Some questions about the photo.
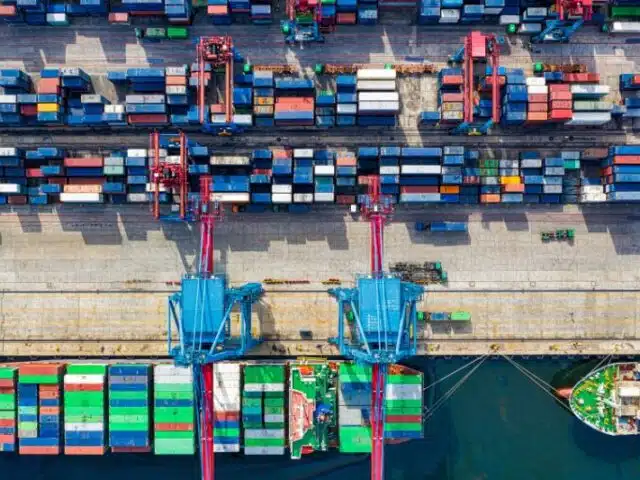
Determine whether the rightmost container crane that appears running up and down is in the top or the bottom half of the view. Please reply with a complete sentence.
Seen from above, the rightmost container crane that appears running up and down lies in the top half of the view.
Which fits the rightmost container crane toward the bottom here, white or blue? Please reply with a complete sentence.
The rightmost container crane toward the bottom looks blue in the image.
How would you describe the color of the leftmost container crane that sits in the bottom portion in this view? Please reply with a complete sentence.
The leftmost container crane that sits in the bottom portion is blue.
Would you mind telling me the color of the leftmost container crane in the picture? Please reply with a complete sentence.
The color of the leftmost container crane is red.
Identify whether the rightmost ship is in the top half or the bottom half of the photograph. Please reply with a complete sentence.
The bottom half of the photo is where the rightmost ship is.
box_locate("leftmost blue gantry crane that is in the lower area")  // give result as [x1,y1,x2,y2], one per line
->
[163,170,264,480]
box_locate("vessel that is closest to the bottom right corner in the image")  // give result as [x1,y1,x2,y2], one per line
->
[556,360,640,438]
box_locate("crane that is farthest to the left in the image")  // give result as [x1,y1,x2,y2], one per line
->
[151,132,201,226]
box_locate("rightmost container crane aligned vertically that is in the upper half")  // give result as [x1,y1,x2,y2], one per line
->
[451,29,501,135]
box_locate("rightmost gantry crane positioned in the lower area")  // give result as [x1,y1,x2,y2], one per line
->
[326,170,428,480]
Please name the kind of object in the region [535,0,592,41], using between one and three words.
container crane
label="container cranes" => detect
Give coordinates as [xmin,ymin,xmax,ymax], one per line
[326,170,428,480]
[198,35,244,136]
[535,0,592,41]
[451,29,501,135]
[151,132,201,226]
[163,170,264,480]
